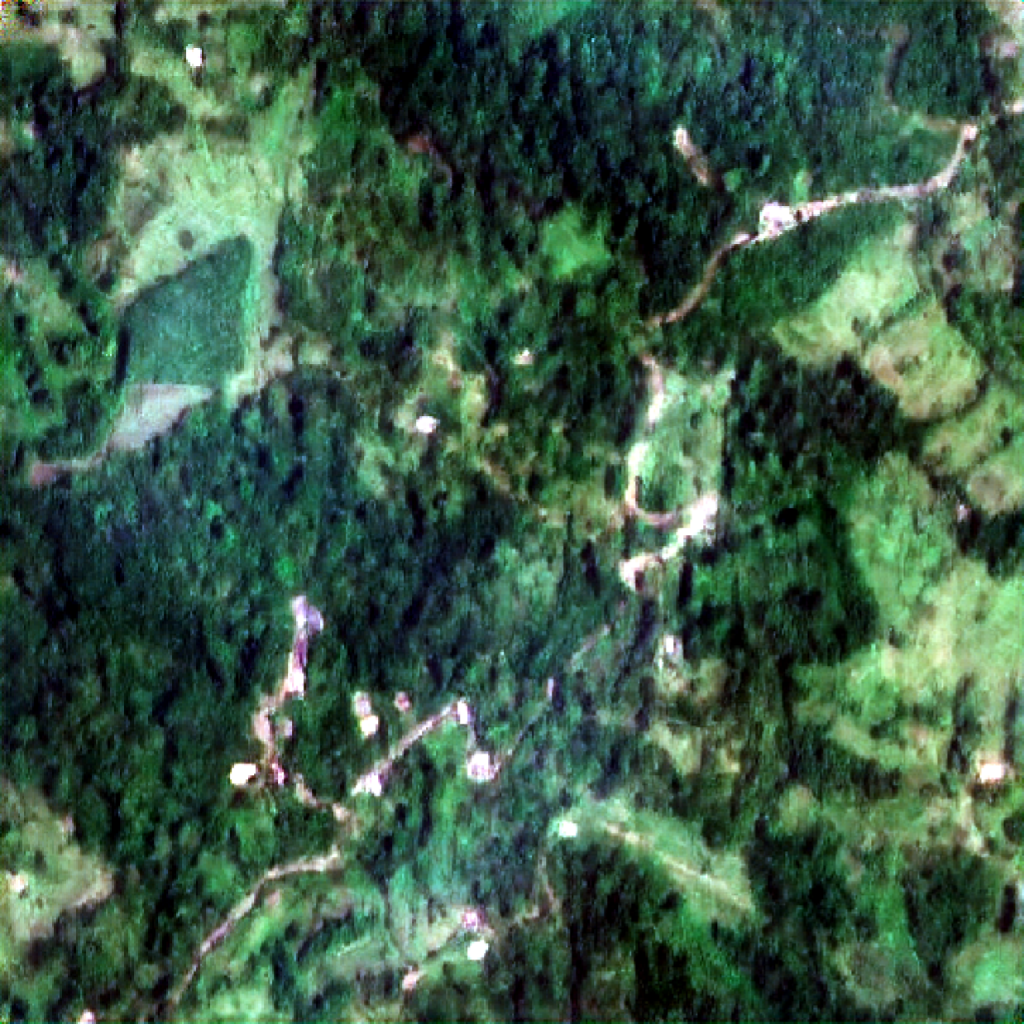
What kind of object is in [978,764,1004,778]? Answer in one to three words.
house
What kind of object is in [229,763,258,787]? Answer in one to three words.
building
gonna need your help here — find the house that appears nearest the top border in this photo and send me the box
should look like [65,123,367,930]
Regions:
[185,45,203,68]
